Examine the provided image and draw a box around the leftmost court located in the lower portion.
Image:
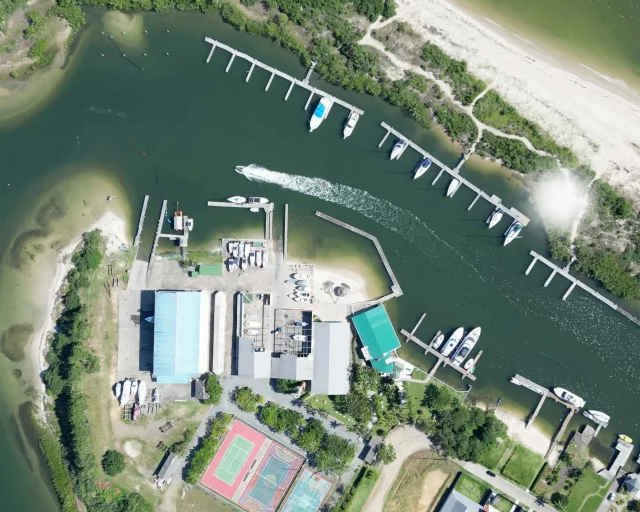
[202,419,266,499]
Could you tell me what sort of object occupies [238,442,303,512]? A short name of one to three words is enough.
sports court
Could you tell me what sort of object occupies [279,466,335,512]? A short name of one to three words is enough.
basketball court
